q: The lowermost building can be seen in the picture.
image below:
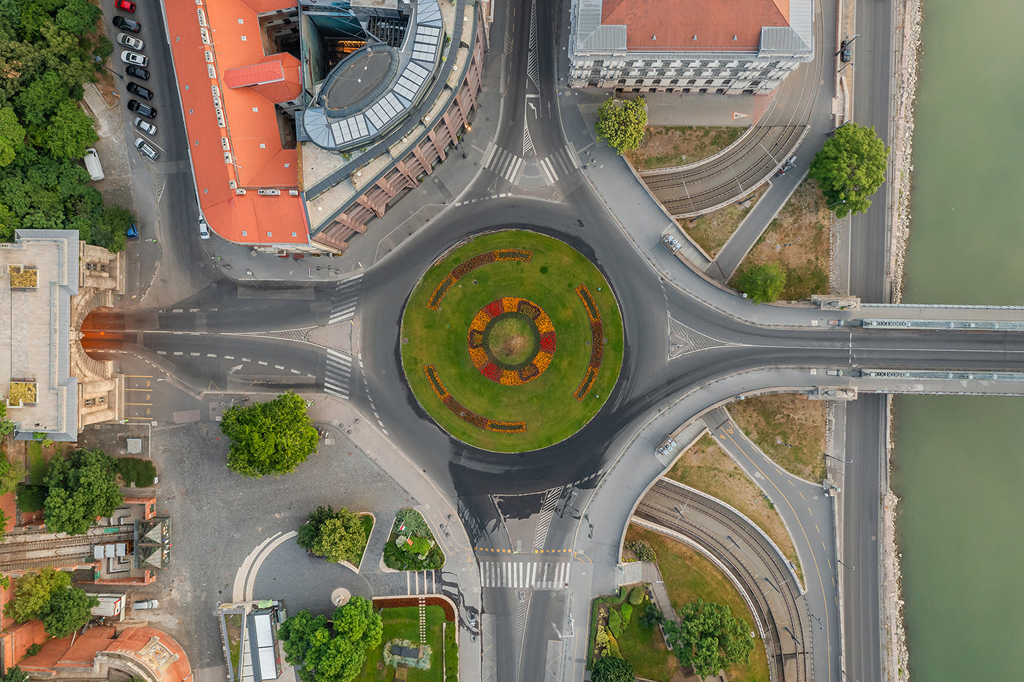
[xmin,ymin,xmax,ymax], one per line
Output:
[244,607,285,682]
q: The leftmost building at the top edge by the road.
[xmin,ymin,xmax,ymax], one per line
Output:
[160,0,328,257]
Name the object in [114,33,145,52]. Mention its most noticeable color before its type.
gray car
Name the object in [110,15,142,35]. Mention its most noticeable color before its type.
black car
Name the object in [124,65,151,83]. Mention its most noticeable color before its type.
black car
